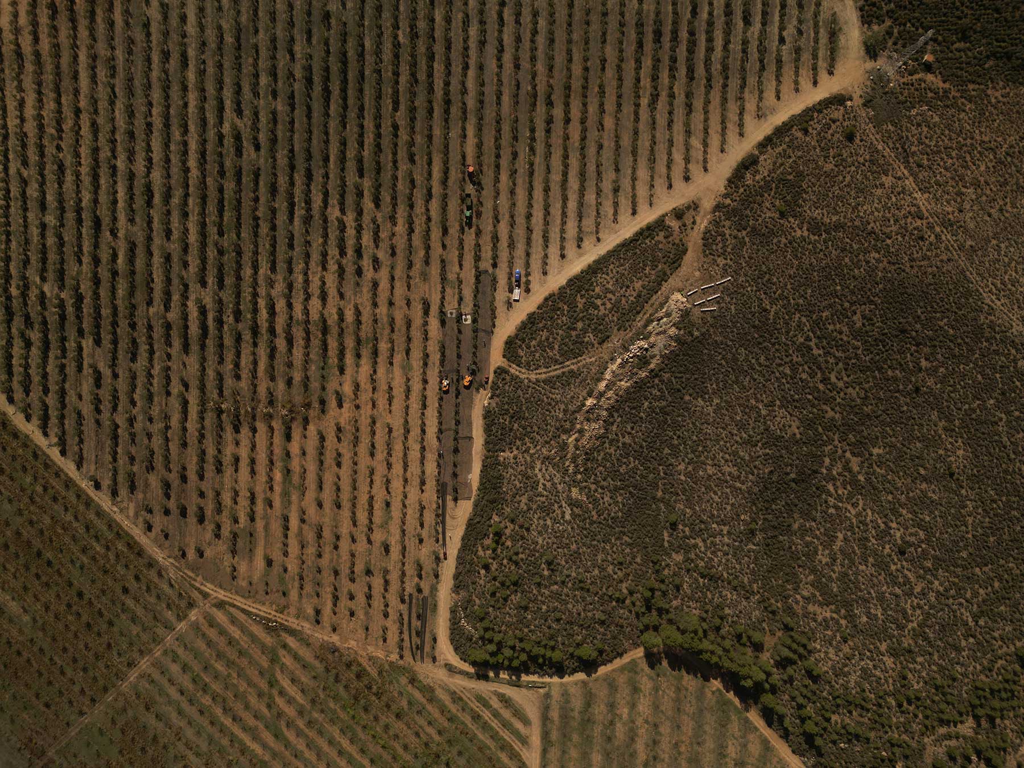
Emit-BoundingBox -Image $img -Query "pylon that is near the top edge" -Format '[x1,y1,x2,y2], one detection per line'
[870,28,937,86]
